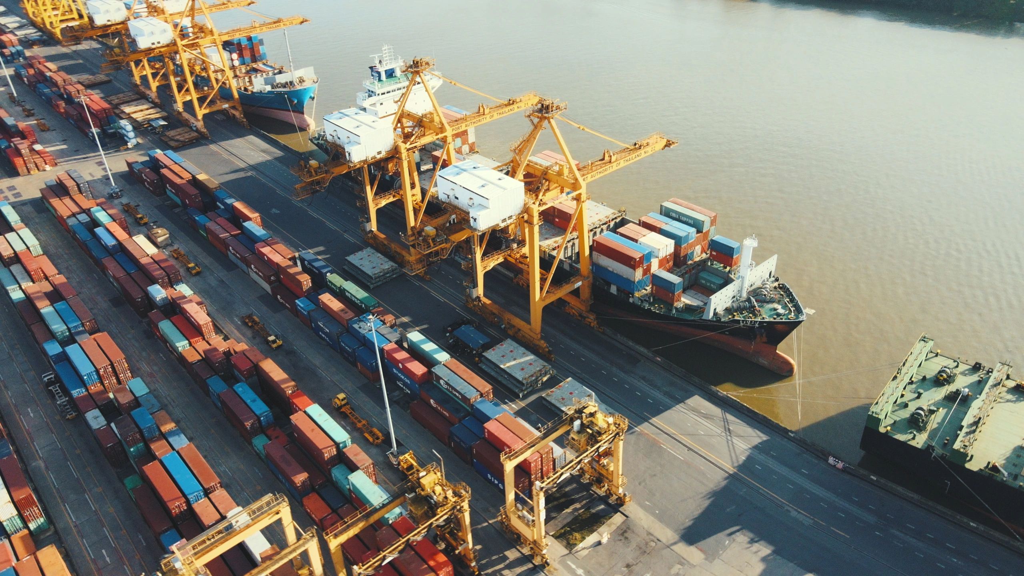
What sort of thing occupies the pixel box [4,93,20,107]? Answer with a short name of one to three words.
vehicle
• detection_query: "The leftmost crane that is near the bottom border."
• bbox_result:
[163,489,337,576]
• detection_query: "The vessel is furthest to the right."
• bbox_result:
[859,328,1024,535]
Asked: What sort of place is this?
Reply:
port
